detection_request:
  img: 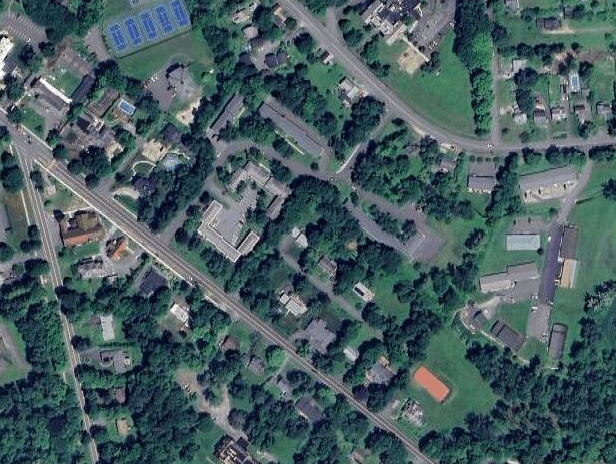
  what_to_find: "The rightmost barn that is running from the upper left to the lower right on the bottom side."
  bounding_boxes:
[489,316,527,351]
